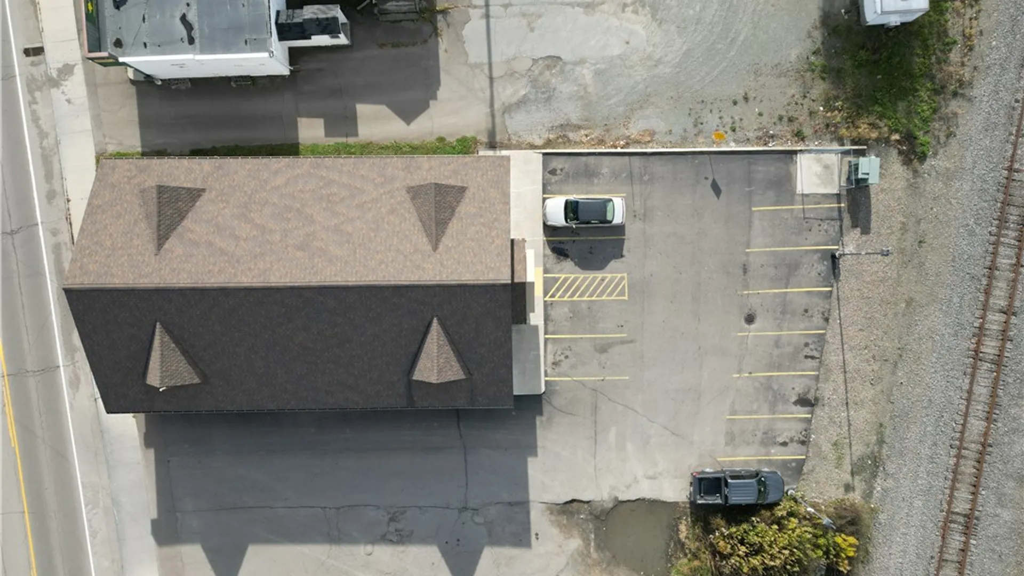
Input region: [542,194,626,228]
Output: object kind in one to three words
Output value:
car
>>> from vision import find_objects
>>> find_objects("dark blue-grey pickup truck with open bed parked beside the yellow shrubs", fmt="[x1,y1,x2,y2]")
[688,468,783,510]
